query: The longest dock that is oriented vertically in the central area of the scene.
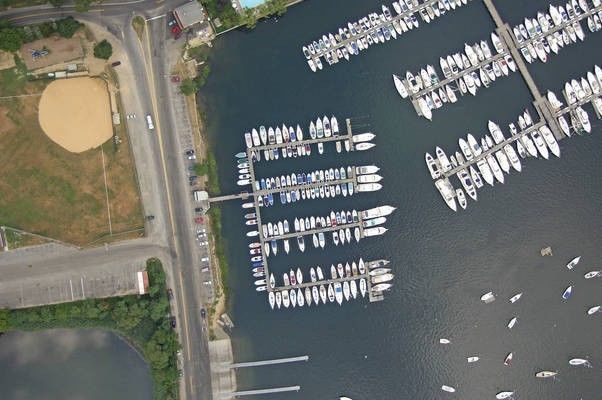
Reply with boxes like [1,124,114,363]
[248,147,270,294]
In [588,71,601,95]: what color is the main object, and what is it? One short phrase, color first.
white boat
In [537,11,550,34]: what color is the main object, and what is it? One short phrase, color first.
white boat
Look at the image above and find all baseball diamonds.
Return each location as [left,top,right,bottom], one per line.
[0,59,146,251]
